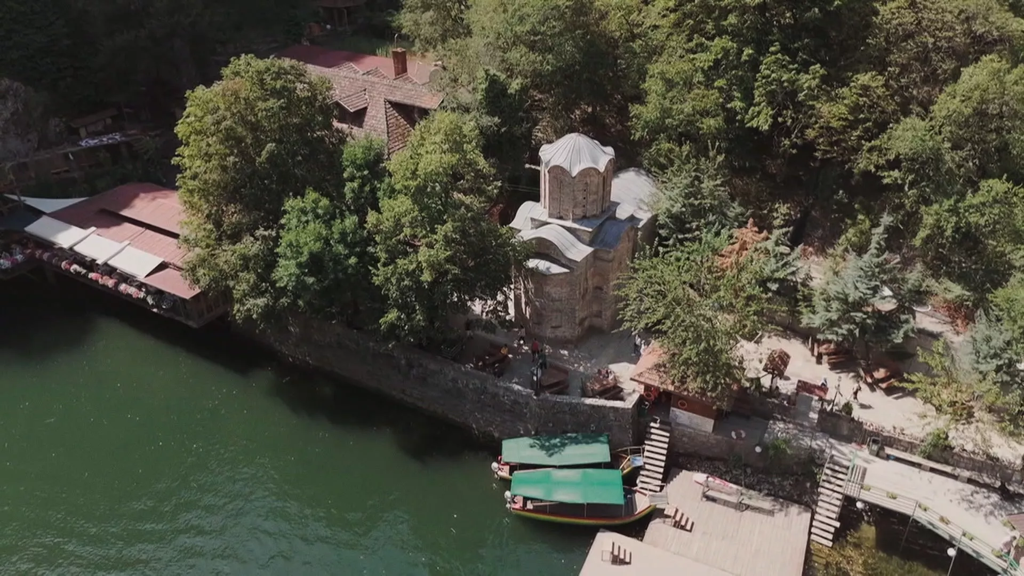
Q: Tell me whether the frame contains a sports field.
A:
No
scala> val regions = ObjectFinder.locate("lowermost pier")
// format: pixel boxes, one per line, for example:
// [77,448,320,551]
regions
[581,528,753,576]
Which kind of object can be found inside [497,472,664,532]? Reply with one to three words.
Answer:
boat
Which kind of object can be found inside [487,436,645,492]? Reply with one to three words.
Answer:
boat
